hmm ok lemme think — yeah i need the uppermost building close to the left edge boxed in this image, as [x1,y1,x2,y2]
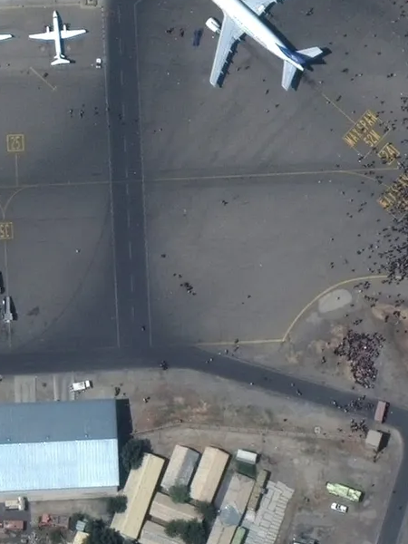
[0,398,119,502]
